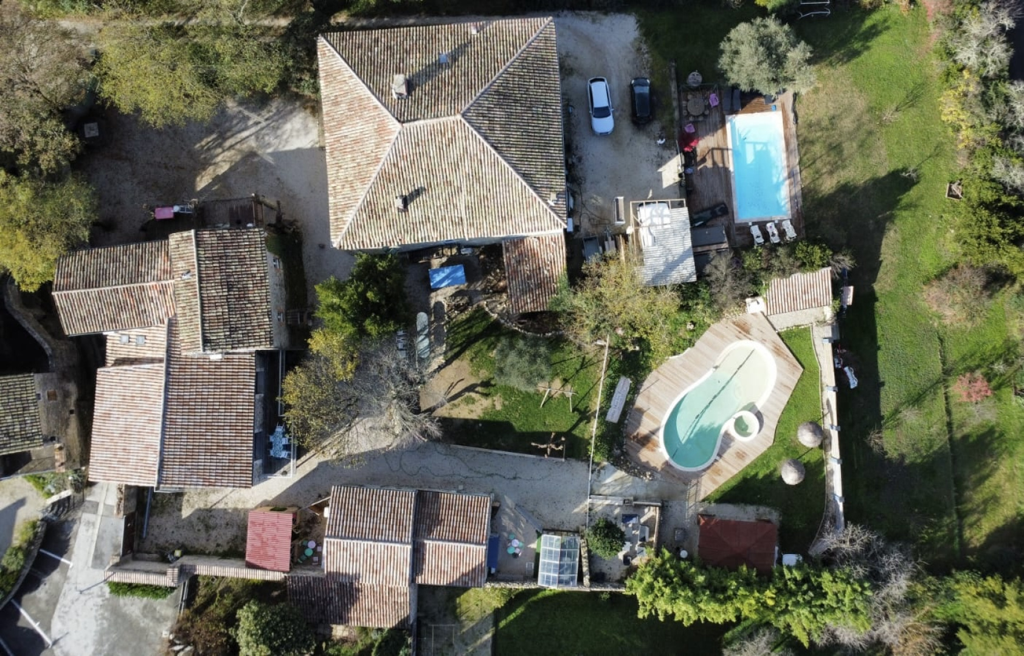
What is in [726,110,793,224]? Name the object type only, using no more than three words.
swimming pool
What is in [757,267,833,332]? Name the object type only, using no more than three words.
building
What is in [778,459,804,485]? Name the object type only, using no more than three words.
umbrella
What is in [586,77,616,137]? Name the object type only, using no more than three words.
car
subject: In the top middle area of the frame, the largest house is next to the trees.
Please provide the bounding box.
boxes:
[315,15,567,260]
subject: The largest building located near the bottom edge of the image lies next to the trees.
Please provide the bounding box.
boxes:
[287,480,500,629]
